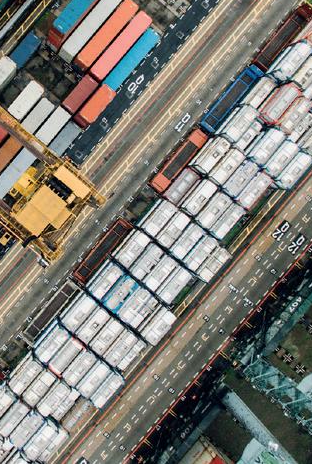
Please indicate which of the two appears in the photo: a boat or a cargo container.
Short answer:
cargo container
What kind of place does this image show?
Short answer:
industrial area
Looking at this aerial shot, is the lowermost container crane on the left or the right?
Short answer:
right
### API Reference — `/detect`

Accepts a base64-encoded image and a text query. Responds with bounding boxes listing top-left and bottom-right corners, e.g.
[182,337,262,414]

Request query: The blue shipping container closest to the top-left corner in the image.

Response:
[7,26,44,70]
